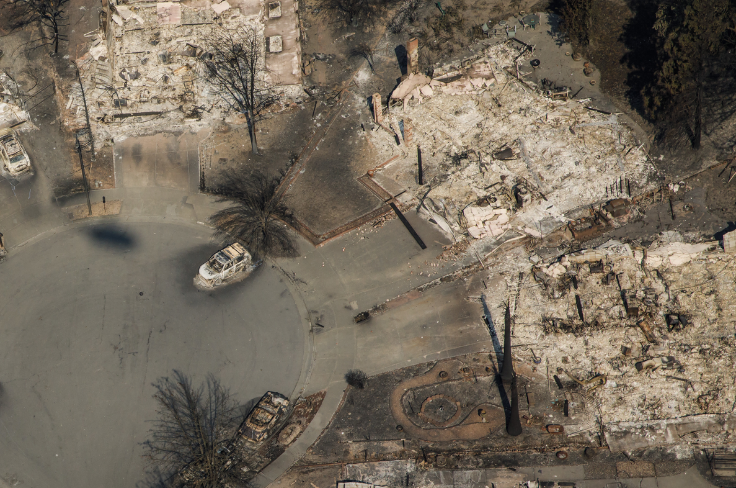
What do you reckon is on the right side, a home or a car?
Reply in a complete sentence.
It is a home that can be seen on the right side.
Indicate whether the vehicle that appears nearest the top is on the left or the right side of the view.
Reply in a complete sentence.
The vehicle that appears nearest the top is on the left side of the image.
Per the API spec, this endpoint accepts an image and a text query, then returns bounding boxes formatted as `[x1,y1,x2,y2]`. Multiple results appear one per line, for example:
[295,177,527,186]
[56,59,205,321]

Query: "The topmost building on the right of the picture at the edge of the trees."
[360,30,670,240]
